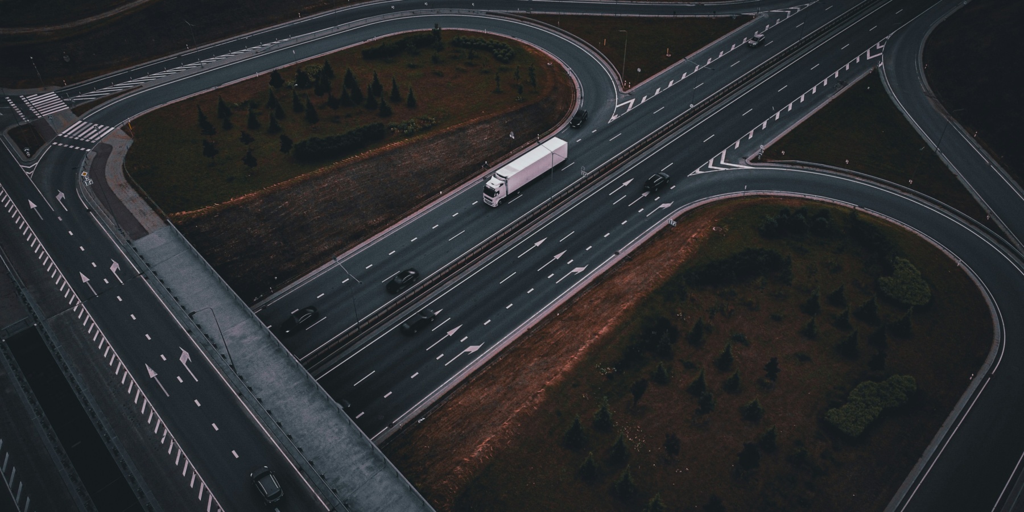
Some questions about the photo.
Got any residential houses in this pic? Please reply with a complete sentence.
No, there isn't any residential house down there.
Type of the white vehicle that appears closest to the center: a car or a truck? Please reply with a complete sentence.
In the photo, the white vehicle that appears closest to the center shows up as a truck.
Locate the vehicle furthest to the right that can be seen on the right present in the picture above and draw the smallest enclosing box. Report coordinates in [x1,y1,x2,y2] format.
[745,28,765,43]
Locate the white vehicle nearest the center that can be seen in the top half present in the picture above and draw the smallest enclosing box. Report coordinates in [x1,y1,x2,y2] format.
[483,135,570,205]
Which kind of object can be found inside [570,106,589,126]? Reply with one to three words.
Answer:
car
